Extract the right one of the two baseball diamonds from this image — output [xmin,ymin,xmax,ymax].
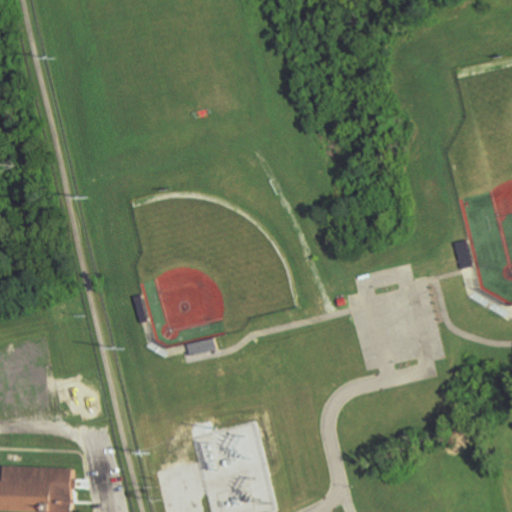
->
[448,57,512,304]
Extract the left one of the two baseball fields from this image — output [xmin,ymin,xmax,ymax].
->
[132,190,296,348]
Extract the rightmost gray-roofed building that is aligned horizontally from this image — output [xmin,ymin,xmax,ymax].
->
[186,338,218,356]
